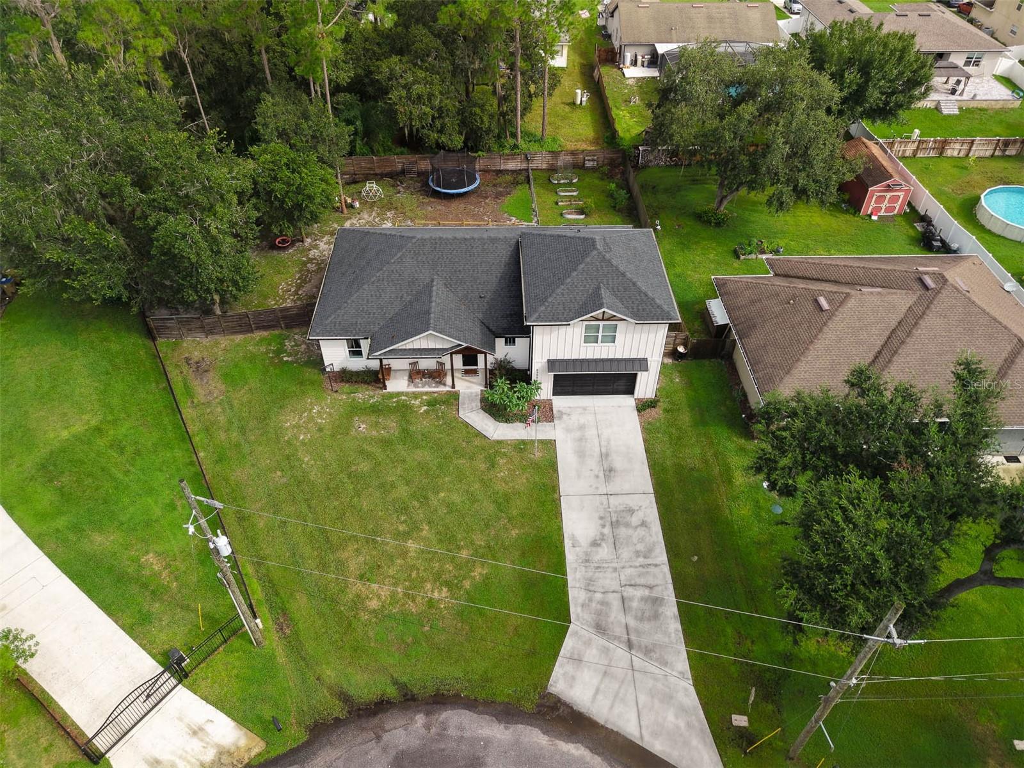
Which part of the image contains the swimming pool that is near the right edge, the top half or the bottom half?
top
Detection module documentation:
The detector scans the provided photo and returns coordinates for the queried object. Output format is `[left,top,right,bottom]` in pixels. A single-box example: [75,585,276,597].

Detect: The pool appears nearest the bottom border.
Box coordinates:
[974,186,1024,243]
